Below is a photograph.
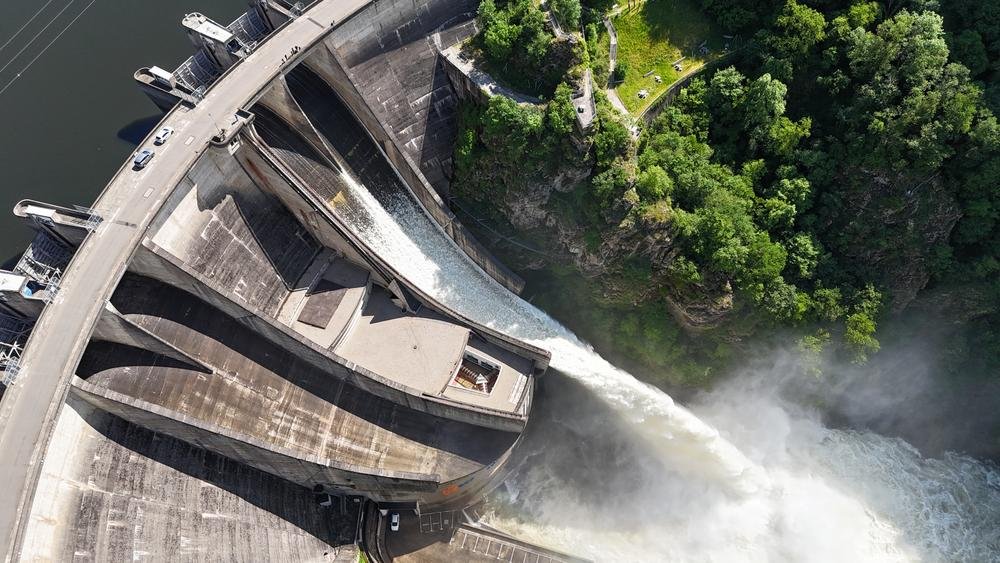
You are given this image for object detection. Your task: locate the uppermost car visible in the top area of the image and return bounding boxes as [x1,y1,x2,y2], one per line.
[150,125,177,145]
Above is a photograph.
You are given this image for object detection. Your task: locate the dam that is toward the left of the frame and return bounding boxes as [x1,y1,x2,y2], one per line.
[0,0,548,563]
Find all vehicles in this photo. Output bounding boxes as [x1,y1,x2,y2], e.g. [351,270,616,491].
[150,125,177,145]
[391,512,400,532]
[128,147,158,171]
